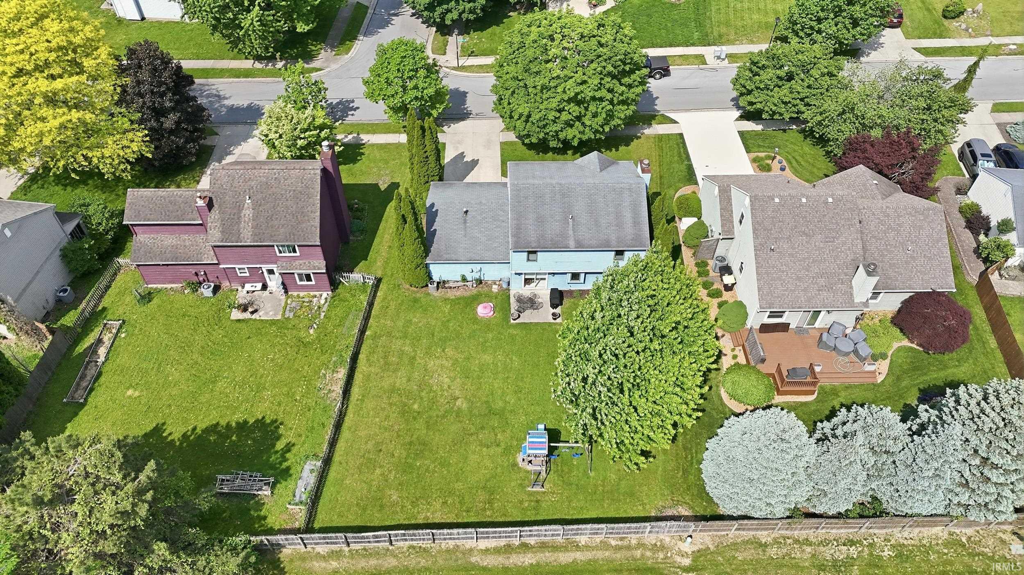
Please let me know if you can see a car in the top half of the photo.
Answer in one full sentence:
Yes, in the top half of the photo there is a car.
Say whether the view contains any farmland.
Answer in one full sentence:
No, the picture contains no farmland.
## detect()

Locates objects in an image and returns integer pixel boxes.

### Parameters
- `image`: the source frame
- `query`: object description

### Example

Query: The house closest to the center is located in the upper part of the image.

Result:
[423,148,653,295]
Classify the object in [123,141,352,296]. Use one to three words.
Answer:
house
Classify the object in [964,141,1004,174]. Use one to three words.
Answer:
car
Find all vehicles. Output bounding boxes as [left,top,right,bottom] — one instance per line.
[964,141,1004,174]
[996,146,1024,172]
[631,54,675,78]
[883,0,905,21]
